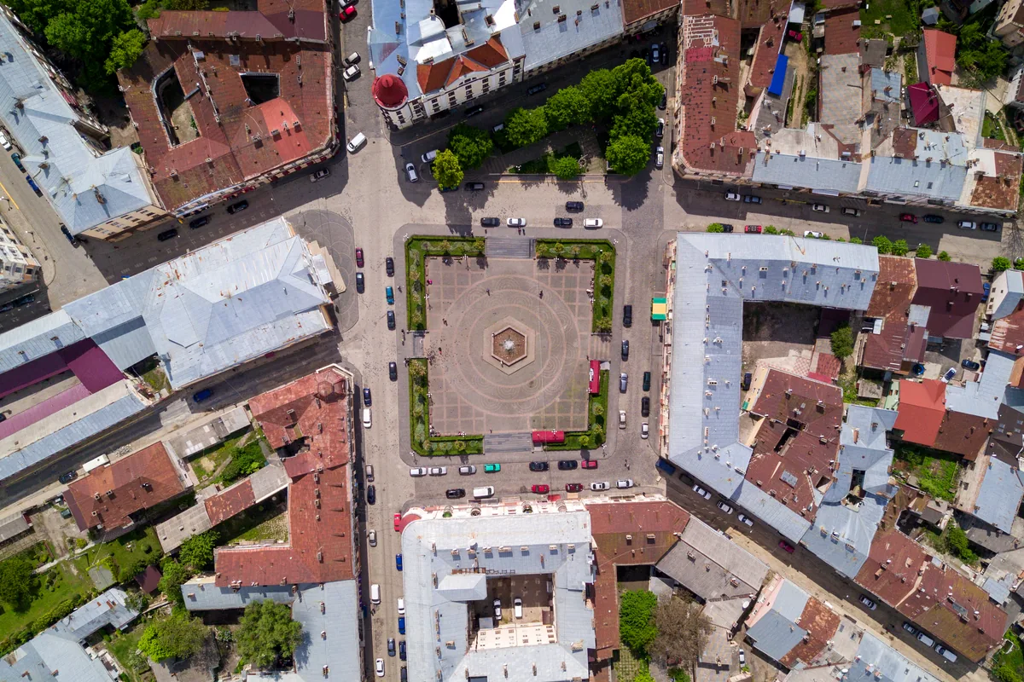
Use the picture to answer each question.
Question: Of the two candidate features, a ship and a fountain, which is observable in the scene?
fountain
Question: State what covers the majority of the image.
buildings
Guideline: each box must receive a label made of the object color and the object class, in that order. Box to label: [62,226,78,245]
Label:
black car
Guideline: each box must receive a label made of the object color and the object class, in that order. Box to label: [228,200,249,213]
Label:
black vehicle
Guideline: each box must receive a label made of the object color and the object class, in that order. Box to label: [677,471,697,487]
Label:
black car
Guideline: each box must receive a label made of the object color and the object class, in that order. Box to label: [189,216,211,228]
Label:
black vehicle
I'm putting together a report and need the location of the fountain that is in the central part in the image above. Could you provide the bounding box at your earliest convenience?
[483,316,535,376]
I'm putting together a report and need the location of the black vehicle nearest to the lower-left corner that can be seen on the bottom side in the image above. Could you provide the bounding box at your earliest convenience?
[59,470,80,483]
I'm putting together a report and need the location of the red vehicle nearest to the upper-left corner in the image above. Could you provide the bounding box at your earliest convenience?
[339,6,358,21]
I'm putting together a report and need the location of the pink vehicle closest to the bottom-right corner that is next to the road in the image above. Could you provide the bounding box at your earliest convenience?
[777,539,794,553]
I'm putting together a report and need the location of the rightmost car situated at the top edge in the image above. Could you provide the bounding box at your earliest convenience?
[786,29,803,43]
